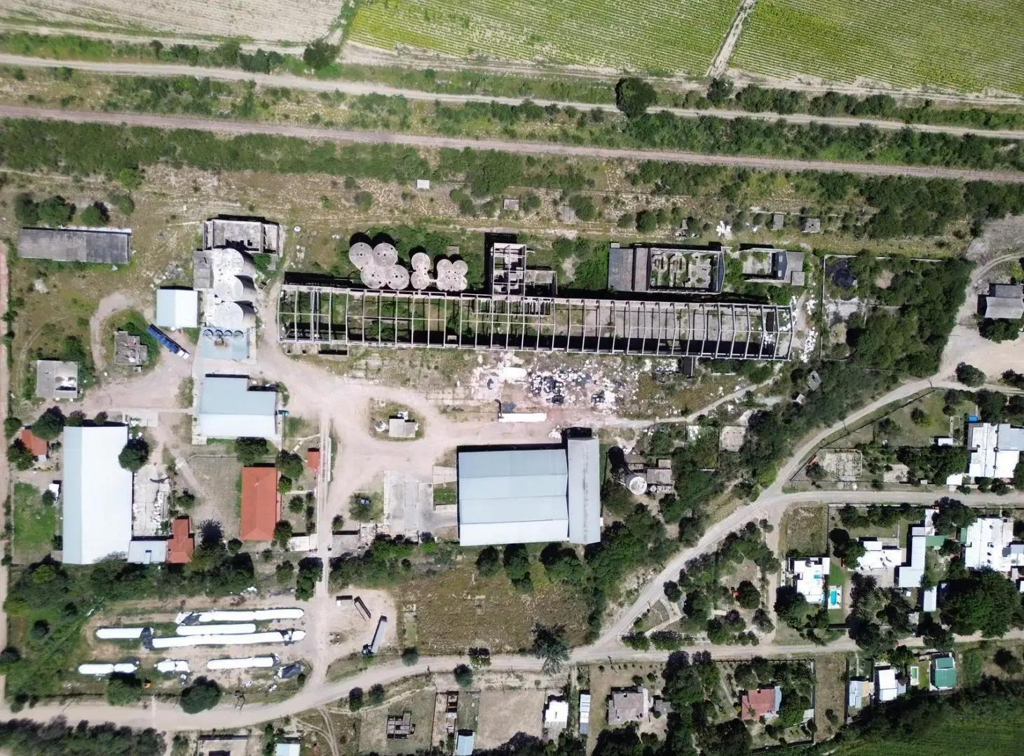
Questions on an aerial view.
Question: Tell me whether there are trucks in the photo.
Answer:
Yes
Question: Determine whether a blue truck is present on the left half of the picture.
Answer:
Yes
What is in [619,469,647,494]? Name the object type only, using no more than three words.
water tower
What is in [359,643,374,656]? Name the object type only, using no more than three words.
vehicle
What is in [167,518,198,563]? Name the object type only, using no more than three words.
house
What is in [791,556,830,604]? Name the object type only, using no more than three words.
building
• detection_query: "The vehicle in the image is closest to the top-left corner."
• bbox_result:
[147,327,191,359]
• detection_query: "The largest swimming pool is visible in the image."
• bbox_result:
[828,586,842,609]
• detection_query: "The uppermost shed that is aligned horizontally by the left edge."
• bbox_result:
[18,229,134,264]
